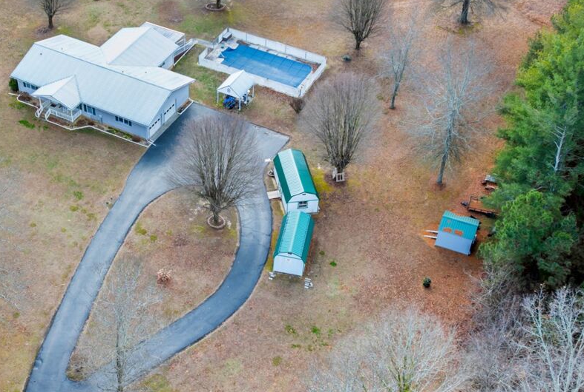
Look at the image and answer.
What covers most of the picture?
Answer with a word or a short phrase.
grass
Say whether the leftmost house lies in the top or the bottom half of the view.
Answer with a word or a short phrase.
top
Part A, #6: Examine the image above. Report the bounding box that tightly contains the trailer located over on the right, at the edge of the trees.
[457,193,511,224]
